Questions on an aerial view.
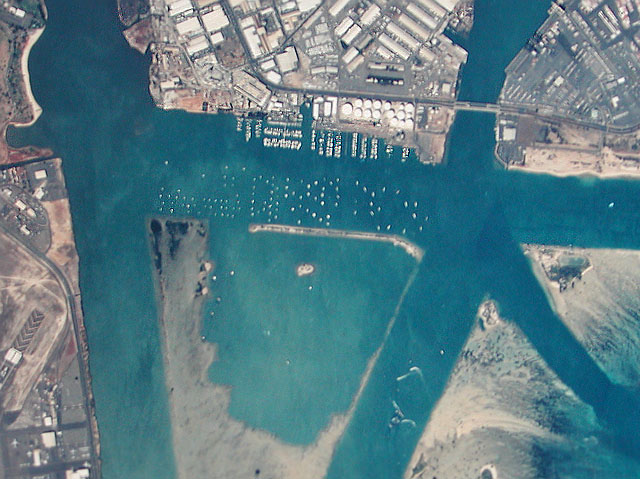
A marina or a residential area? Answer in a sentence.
The area seen from above is a marina.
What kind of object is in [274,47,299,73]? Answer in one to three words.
building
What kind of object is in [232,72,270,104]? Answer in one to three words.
building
